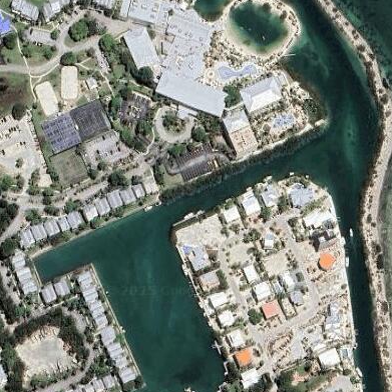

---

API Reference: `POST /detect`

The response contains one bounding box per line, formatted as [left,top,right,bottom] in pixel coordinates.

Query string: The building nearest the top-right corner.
[239,75,283,109]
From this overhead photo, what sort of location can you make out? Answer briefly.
residential area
